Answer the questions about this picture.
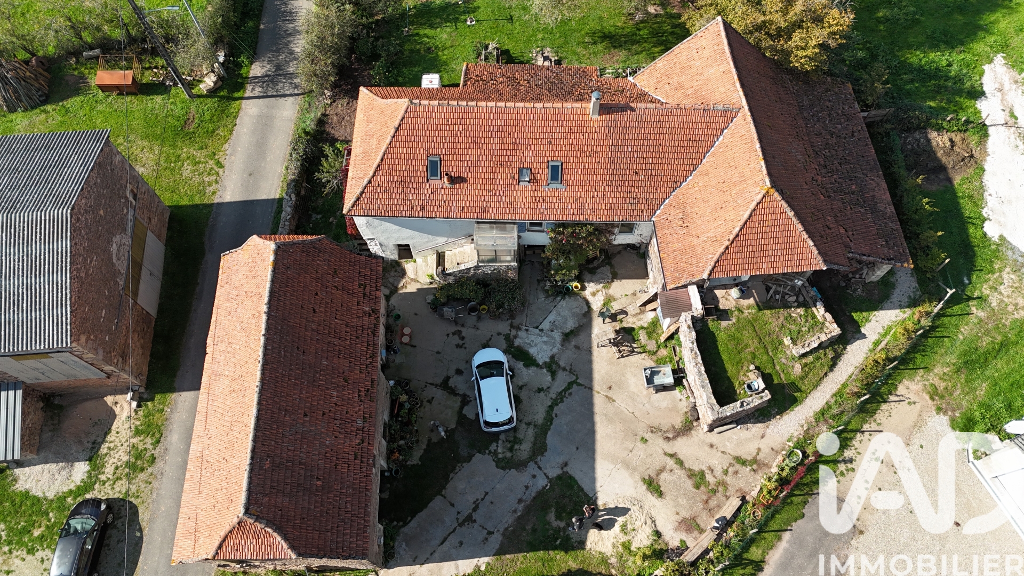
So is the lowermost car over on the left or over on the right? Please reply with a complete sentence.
You can find the lowermost car on the left side of the picture.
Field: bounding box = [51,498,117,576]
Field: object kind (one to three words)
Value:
car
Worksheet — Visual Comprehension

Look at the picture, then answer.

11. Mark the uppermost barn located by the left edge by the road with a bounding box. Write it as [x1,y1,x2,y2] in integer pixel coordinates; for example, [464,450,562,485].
[0,125,170,392]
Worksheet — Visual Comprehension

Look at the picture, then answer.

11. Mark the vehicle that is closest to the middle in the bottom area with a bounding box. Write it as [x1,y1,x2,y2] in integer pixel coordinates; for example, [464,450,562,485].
[471,352,518,434]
